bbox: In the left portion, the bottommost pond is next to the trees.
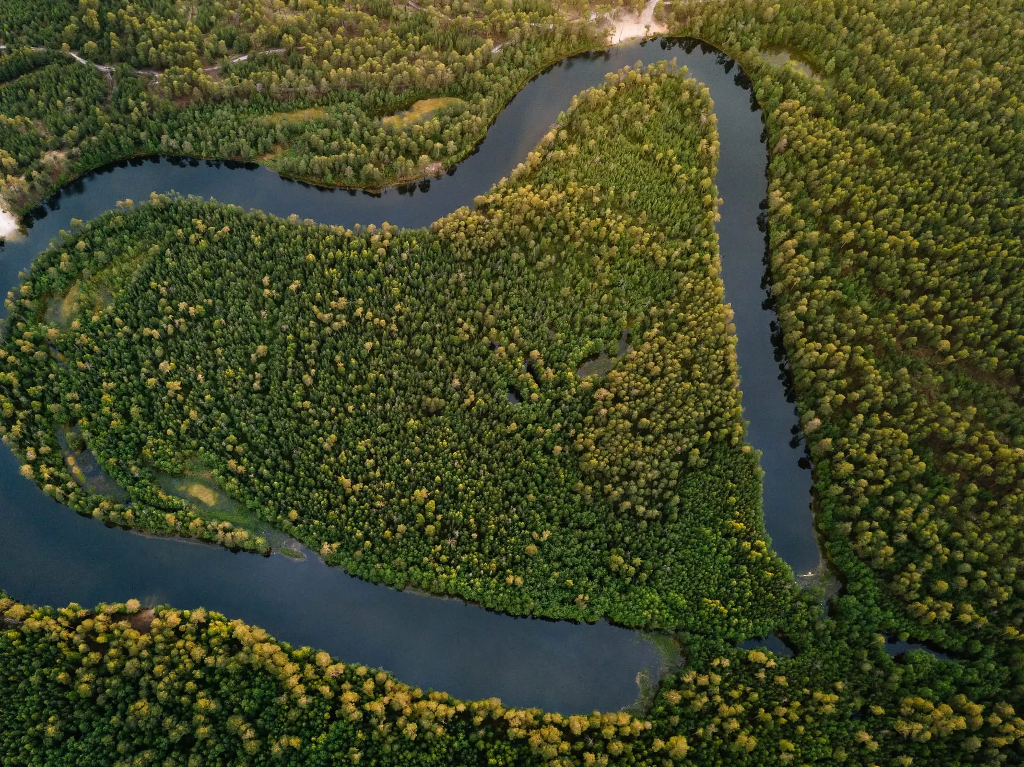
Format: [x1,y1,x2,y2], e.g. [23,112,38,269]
[56,420,131,505]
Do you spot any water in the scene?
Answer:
Yes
